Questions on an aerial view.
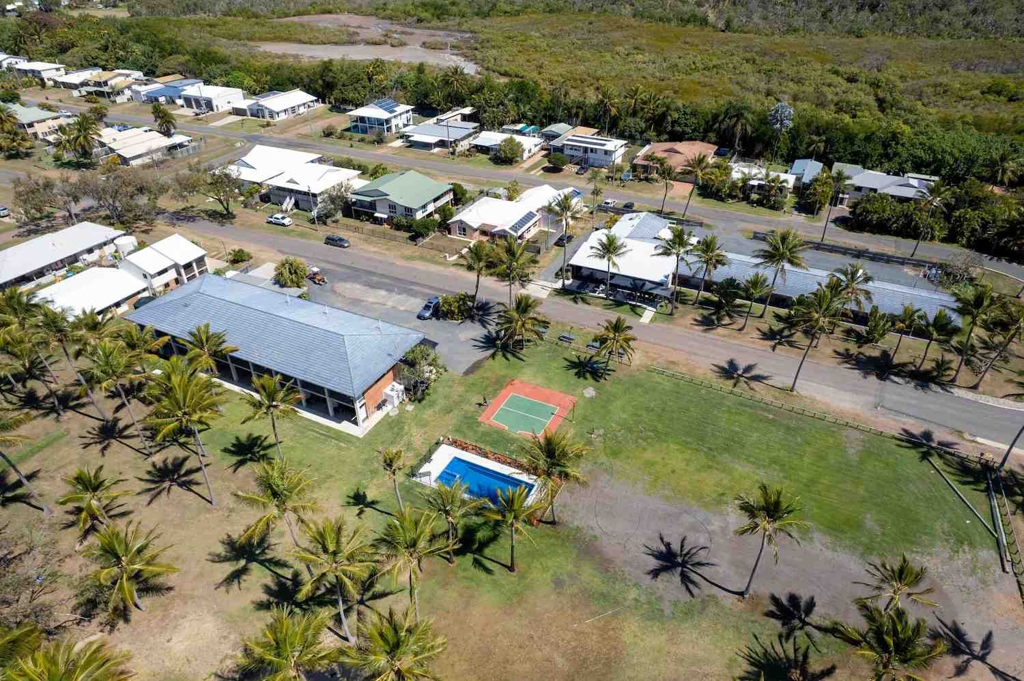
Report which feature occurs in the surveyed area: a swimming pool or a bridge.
swimming pool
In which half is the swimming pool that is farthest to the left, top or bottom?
bottom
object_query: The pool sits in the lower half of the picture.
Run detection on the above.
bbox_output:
[413,442,551,523]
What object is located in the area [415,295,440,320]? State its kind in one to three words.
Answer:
car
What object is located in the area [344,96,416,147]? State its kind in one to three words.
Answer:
house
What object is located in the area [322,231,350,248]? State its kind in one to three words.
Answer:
car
